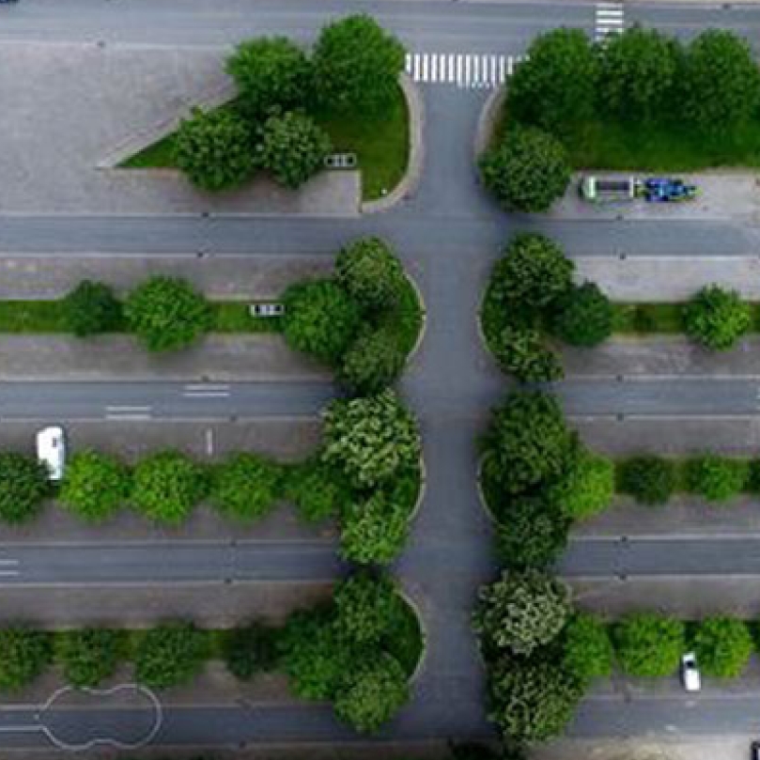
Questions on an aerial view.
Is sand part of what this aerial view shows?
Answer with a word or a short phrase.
No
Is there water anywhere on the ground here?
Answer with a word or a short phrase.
No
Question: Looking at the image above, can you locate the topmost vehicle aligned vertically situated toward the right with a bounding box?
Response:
[680,652,698,690]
